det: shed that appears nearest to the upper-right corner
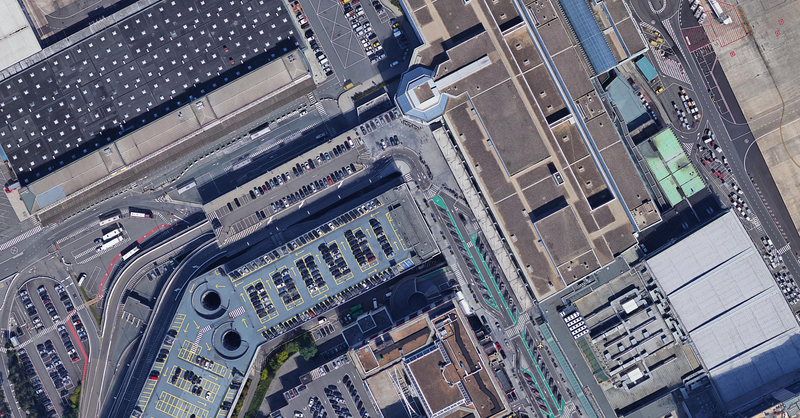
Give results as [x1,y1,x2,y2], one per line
[634,55,658,81]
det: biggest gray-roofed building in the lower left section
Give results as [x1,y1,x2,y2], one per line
[123,296,151,319]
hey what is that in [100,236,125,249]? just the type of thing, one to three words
vehicle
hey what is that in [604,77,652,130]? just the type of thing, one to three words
building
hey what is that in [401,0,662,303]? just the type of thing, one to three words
building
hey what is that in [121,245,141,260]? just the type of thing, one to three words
vehicle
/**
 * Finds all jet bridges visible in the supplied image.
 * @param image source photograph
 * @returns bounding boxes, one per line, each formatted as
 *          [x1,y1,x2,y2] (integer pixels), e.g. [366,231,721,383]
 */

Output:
[710,0,736,30]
